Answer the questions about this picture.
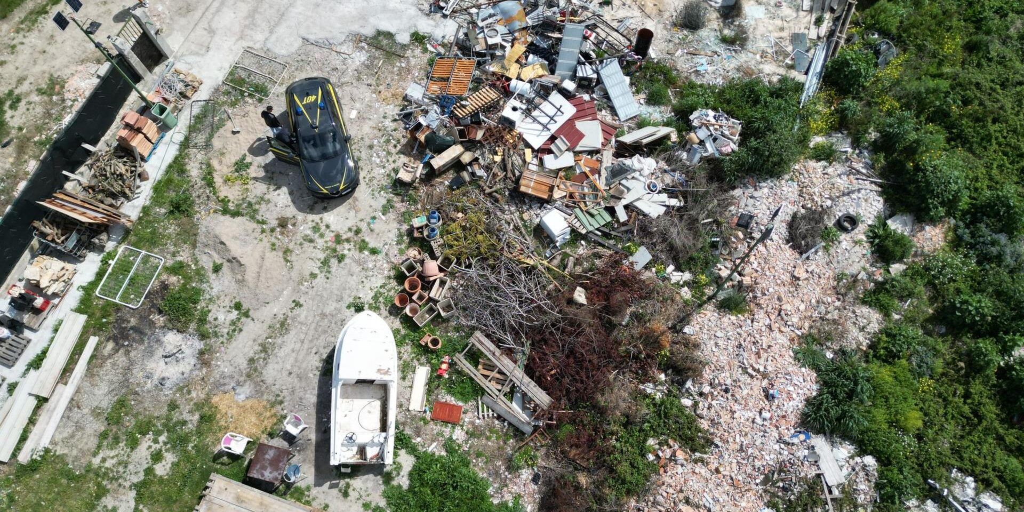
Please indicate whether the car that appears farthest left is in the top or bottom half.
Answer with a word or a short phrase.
top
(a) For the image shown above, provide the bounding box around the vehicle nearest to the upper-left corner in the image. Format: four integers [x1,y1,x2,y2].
[268,75,361,199]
